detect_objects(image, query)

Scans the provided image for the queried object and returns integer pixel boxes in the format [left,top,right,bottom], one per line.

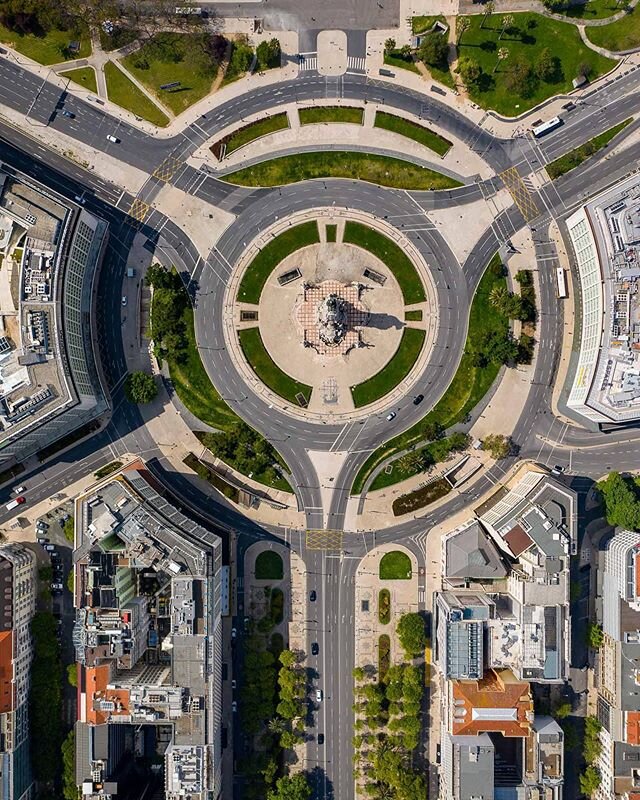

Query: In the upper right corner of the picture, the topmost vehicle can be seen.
[534,115,563,134]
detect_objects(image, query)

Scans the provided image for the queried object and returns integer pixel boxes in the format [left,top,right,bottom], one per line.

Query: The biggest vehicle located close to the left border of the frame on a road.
[1,496,23,511]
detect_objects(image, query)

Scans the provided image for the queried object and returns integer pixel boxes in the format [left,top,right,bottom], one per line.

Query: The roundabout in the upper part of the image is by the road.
[194,179,468,452]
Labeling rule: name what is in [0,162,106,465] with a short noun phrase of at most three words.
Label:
building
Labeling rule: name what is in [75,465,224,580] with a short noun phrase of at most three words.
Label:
building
